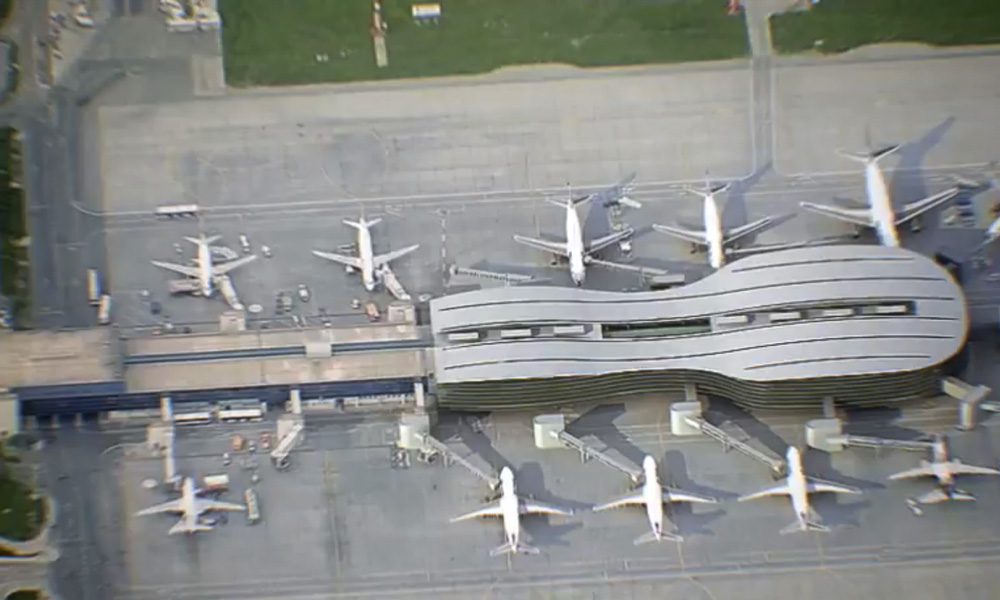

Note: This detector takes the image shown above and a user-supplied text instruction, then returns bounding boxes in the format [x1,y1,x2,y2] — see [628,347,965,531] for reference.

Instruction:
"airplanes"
[652,173,771,271]
[805,136,960,248]
[136,478,245,538]
[150,225,256,298]
[593,455,719,542]
[312,202,418,291]
[447,466,575,554]
[737,447,862,533]
[515,185,633,285]
[891,437,1000,507]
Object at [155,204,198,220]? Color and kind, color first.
white vehicle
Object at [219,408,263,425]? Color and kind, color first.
white vehicle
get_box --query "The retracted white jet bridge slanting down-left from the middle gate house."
[268,424,306,471]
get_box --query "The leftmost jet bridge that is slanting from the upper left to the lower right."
[415,426,502,492]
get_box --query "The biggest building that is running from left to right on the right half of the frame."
[431,246,967,409]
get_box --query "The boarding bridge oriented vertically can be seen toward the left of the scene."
[162,437,184,491]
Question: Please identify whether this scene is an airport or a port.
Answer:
airport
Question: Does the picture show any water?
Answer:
No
